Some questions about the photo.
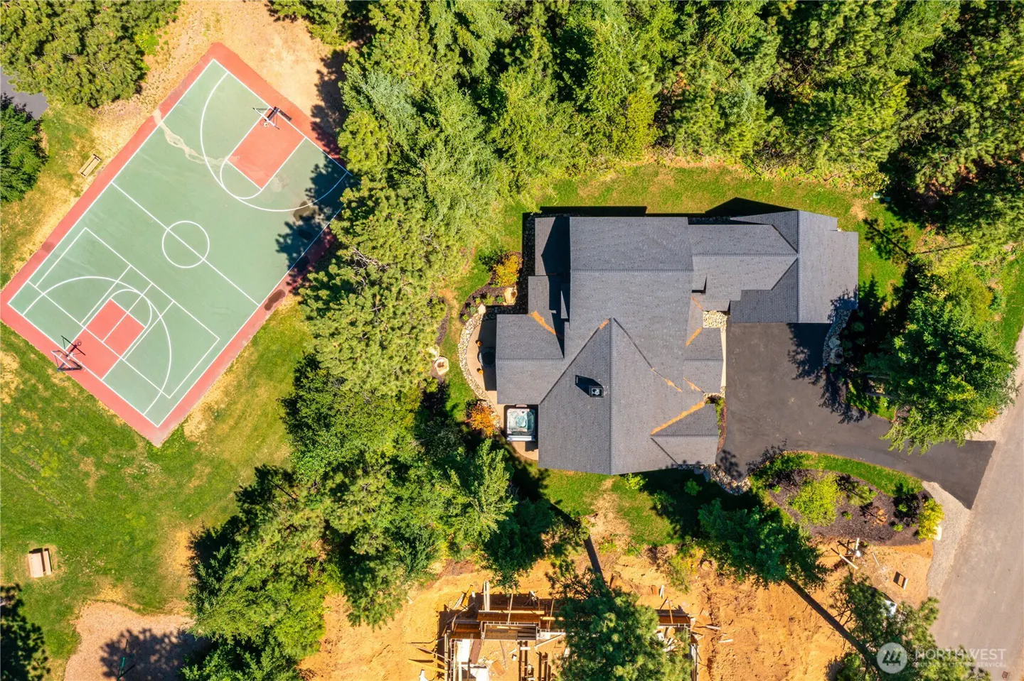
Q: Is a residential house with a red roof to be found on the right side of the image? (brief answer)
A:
No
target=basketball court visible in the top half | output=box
[0,42,383,452]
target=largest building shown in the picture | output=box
[496,210,858,475]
